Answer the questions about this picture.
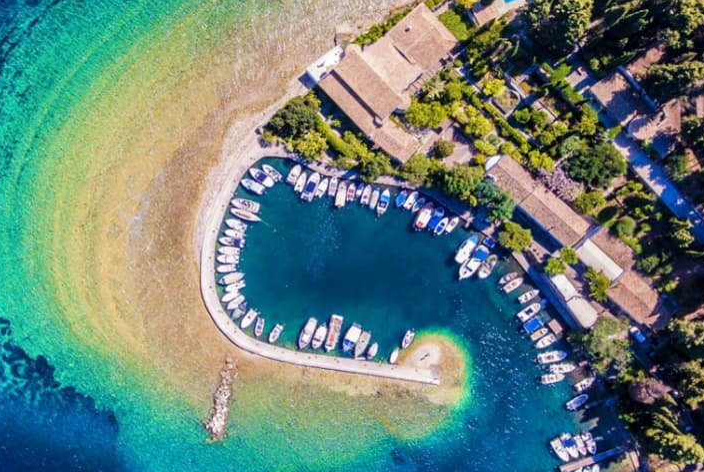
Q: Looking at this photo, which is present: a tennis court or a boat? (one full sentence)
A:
There is a boat in the scene.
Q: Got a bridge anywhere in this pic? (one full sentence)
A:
No, I find no bridge anywhere in the image.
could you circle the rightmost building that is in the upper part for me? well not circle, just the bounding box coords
[626,102,682,159]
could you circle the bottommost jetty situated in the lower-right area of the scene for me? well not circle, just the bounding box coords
[559,443,625,472]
